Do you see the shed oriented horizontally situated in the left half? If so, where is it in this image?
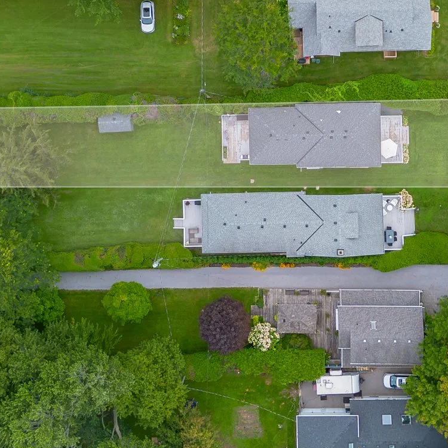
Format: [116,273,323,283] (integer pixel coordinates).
[98,114,135,133]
